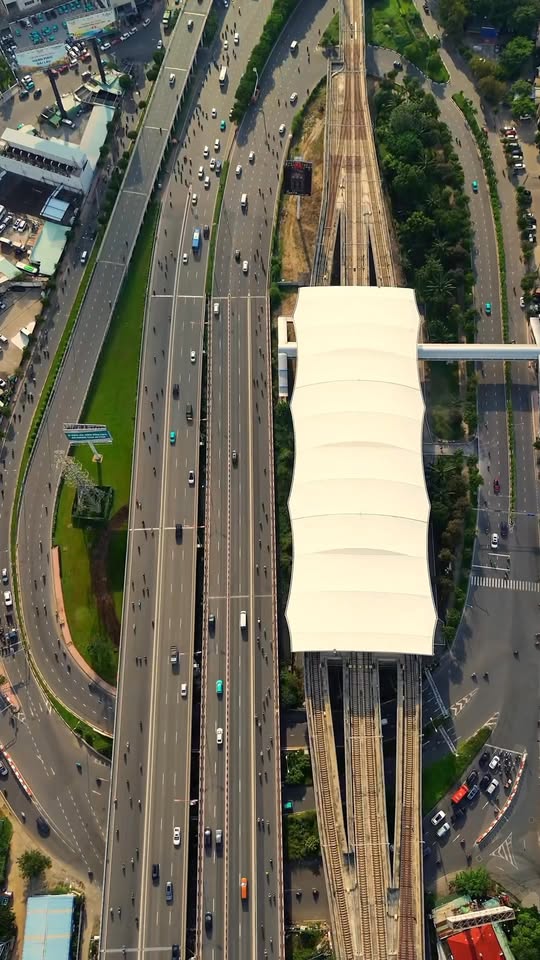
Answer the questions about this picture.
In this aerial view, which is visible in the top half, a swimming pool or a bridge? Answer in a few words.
bridge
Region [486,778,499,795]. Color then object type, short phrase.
white vehicle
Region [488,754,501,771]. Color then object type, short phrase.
white vehicle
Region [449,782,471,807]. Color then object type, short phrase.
red truck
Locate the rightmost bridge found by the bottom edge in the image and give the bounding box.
[304,652,426,960]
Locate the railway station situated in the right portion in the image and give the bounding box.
[278,280,438,654]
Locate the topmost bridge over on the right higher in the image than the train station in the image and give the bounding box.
[310,0,397,286]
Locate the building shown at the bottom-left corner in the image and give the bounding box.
[22,891,82,960]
